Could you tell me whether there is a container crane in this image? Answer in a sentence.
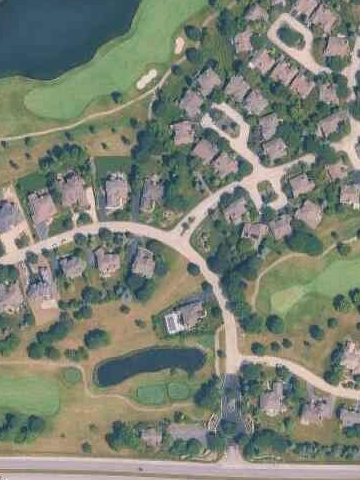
No, no container crane is visible in the scene.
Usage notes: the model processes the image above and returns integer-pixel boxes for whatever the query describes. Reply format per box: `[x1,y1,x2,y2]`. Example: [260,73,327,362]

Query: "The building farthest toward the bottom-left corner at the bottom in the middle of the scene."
[140,425,164,446]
